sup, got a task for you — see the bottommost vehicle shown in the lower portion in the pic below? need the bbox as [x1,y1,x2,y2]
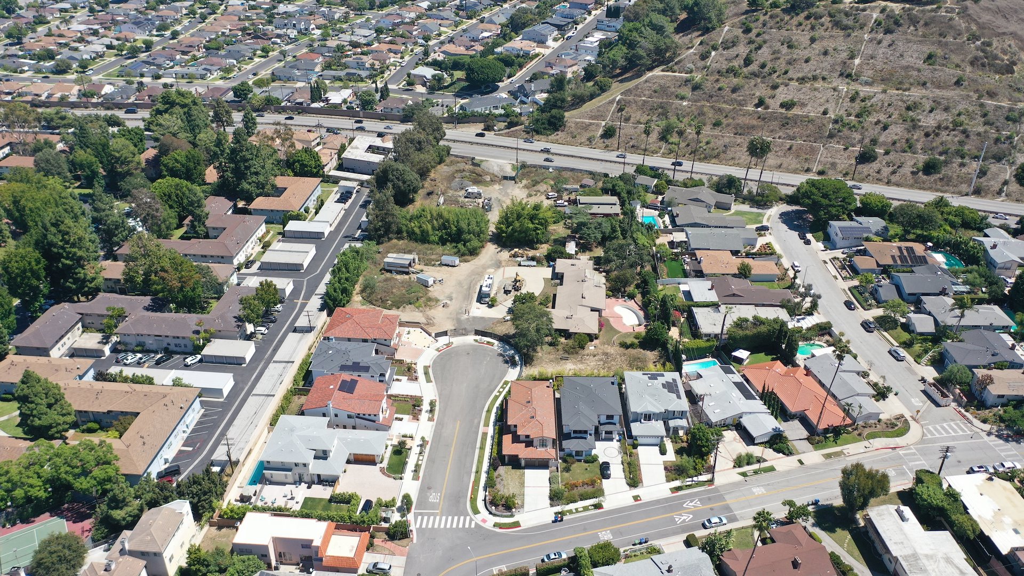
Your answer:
[366,559,393,574]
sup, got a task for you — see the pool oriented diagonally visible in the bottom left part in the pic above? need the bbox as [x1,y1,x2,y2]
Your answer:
[247,463,264,486]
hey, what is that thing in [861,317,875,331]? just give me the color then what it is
gray car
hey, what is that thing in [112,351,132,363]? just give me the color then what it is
gray vehicle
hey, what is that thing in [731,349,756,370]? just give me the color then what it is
white gazebo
